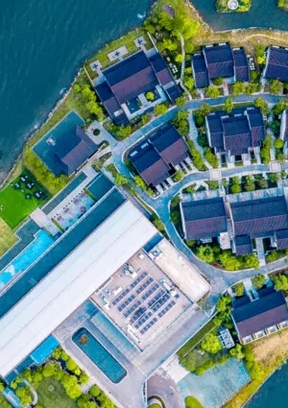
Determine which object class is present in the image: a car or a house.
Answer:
house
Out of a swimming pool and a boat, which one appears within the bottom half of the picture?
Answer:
swimming pool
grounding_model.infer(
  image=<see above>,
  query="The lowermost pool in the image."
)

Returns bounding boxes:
[3,388,22,408]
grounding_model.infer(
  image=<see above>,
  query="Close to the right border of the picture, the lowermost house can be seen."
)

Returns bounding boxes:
[230,277,288,347]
